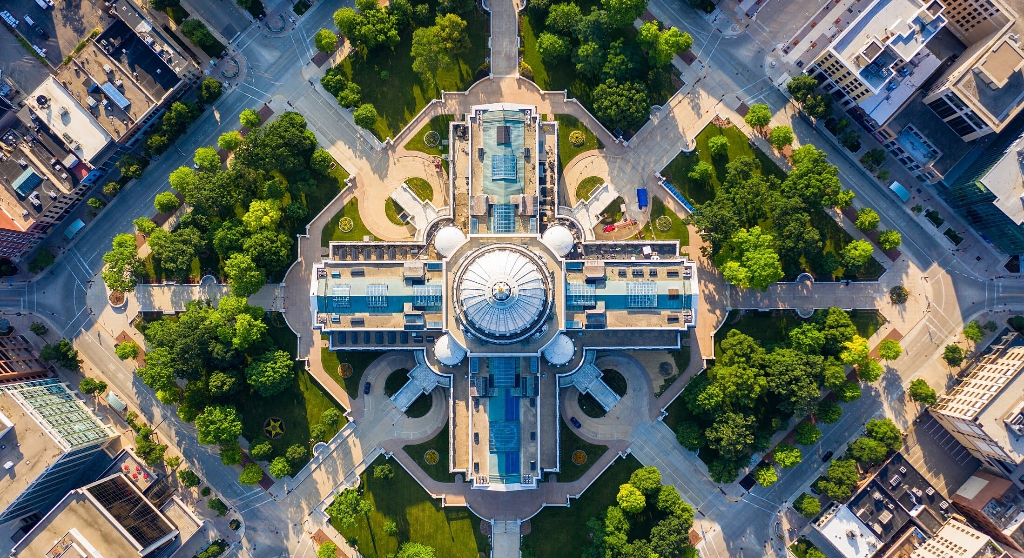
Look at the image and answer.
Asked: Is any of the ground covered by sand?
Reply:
No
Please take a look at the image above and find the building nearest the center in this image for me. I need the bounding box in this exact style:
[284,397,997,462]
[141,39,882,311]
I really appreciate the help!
[310,102,699,491]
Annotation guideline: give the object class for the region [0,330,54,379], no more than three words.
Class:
building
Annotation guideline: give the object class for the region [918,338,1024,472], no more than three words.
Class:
building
